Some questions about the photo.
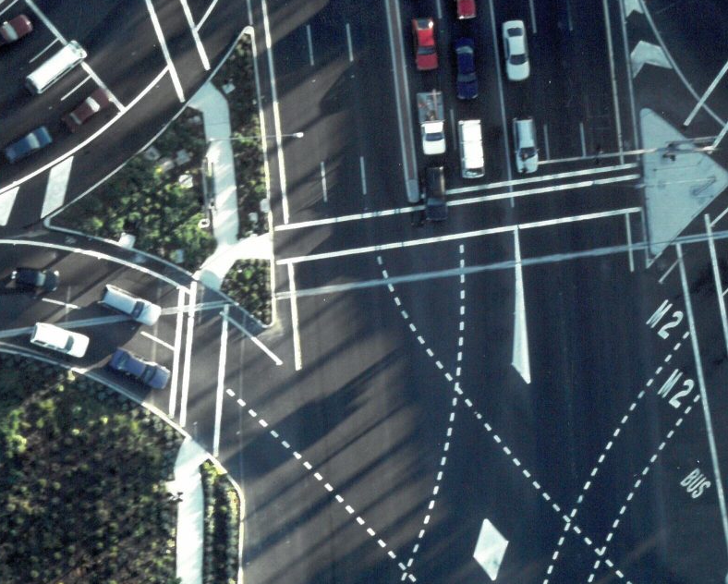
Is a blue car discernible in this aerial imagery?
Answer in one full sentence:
Yes, this view includes a blue car.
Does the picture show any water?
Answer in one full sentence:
No, the scene doesn't show any water.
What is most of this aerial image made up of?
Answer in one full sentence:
Most of the picture is covered by paved ground.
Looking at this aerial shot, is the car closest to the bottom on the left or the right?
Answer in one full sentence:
The car closest to the bottom sits on the left side.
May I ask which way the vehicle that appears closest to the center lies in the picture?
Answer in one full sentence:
The vehicle that appears closest to the center runs up and down in the image.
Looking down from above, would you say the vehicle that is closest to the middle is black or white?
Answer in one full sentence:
From above, the vehicle that is closest to the middle appears black.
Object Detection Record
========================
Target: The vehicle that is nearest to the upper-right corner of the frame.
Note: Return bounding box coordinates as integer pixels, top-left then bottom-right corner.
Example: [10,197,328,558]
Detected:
[502,20,530,81]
